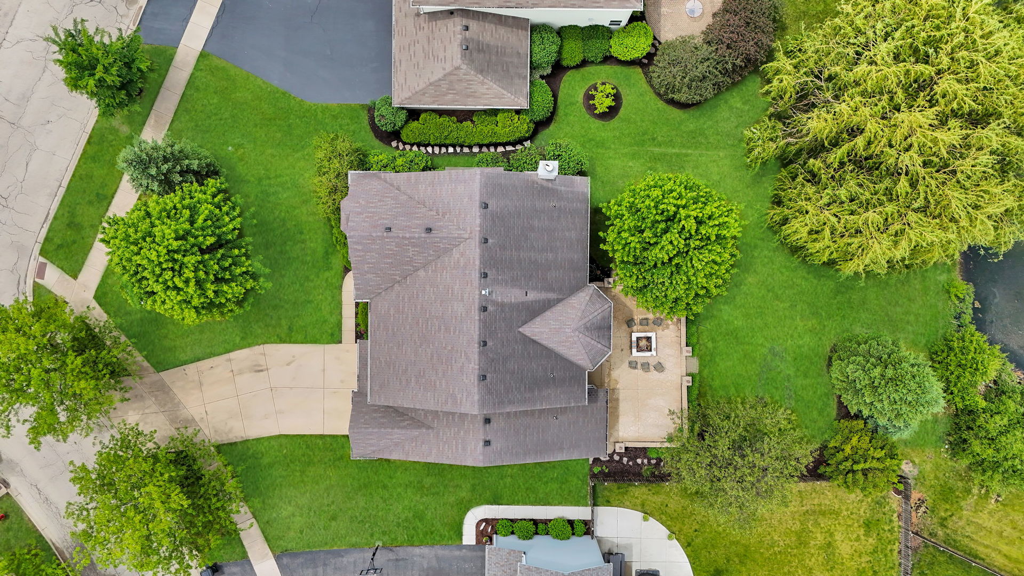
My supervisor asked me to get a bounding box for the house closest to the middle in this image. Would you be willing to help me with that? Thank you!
[341,161,614,467]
